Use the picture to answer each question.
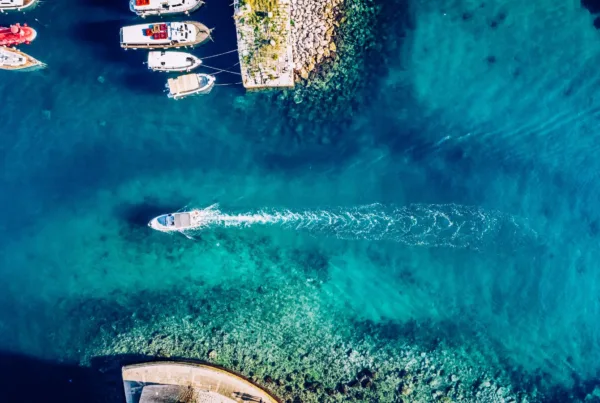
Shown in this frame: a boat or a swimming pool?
boat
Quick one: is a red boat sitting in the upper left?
Yes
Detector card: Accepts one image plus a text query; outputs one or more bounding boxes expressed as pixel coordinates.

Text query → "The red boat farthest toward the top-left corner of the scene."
[0,23,39,48]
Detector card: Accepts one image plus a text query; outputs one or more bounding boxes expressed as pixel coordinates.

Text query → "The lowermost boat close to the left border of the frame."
[0,47,47,74]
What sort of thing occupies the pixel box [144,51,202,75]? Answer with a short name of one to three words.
boat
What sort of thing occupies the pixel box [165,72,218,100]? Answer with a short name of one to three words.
boat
